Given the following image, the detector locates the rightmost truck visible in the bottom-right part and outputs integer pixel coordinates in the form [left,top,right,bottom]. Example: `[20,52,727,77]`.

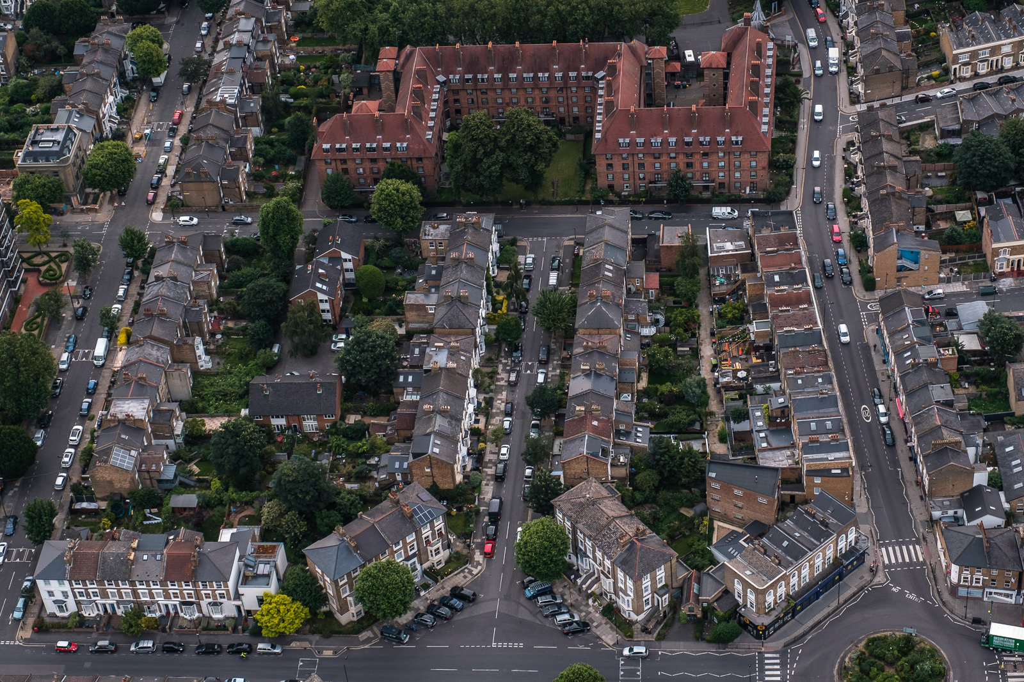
[981,628,1024,660]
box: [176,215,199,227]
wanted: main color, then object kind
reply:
white vehicle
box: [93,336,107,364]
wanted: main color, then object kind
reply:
white vehicle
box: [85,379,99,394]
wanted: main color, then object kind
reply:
blue car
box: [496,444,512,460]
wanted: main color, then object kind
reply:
white car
